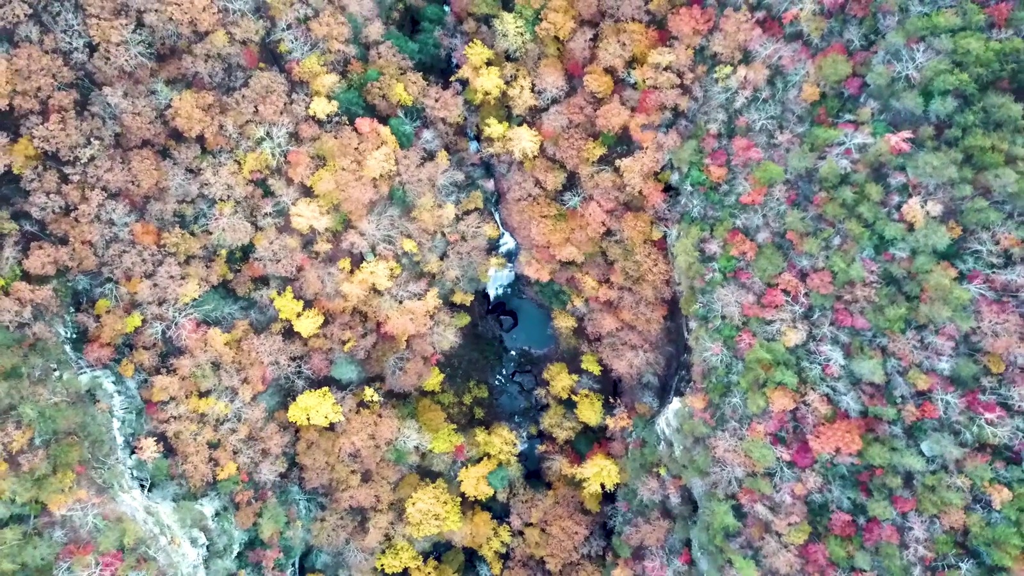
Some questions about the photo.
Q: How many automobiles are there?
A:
0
